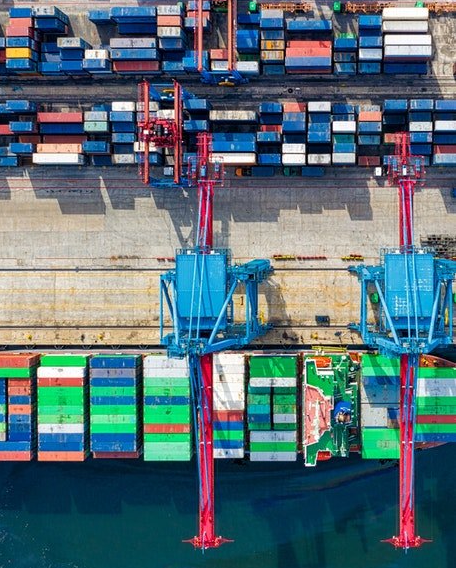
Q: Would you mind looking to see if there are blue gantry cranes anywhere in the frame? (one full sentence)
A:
Yes, looking at the shot, I can spot a blue gantry crane.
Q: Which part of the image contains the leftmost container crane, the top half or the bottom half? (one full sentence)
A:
The top half of the photo is where the leftmost container crane is.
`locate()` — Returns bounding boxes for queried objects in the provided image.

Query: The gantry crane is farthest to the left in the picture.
[139,78,201,189]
